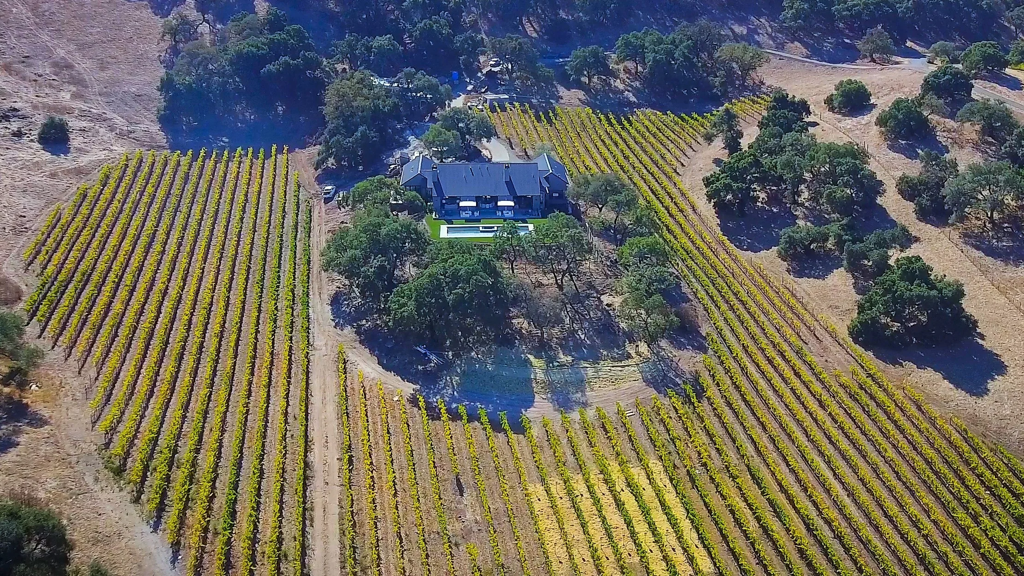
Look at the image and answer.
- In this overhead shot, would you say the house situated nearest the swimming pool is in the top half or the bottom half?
top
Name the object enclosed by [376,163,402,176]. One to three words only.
vehicle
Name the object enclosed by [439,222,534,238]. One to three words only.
swimming pool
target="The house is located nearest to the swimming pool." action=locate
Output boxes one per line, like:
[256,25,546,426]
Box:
[397,156,572,217]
